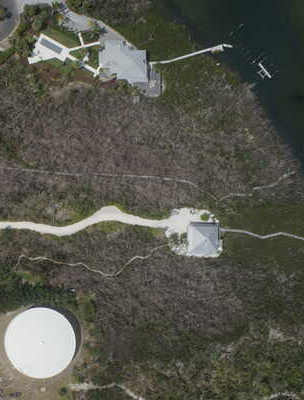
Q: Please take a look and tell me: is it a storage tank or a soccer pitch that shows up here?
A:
storage tank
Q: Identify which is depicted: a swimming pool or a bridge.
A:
swimming pool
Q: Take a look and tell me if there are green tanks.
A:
No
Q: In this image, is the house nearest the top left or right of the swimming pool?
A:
right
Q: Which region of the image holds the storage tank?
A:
bottom left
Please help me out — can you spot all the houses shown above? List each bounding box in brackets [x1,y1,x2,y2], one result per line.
[185,223,220,256]
[99,39,160,95]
